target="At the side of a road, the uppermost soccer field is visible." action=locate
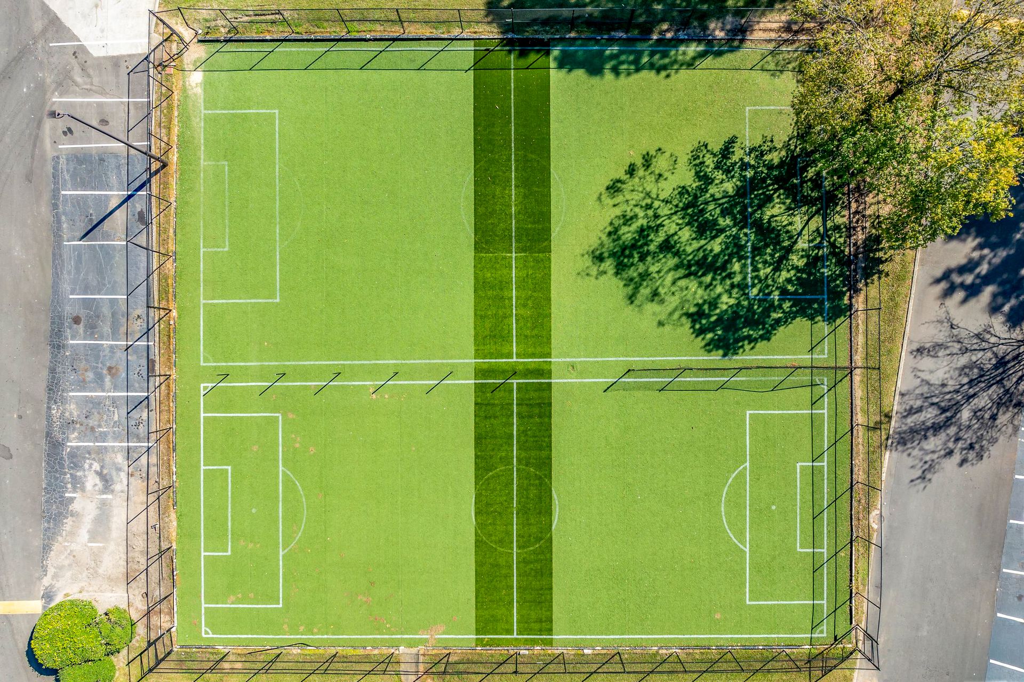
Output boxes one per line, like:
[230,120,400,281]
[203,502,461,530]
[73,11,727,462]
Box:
[177,38,851,372]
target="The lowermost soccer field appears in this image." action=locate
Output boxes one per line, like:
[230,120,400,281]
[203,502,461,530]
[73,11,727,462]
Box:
[176,372,850,653]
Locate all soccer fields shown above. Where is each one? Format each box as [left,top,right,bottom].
[177,38,851,372]
[176,372,850,653]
